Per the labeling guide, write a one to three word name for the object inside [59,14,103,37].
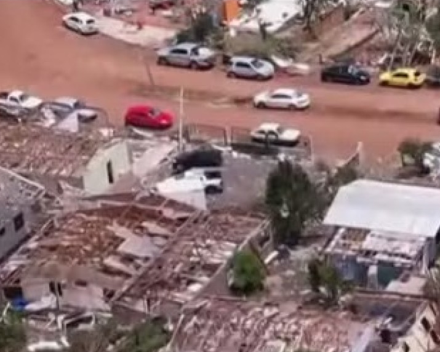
car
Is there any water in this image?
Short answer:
No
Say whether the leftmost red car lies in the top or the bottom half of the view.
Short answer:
top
